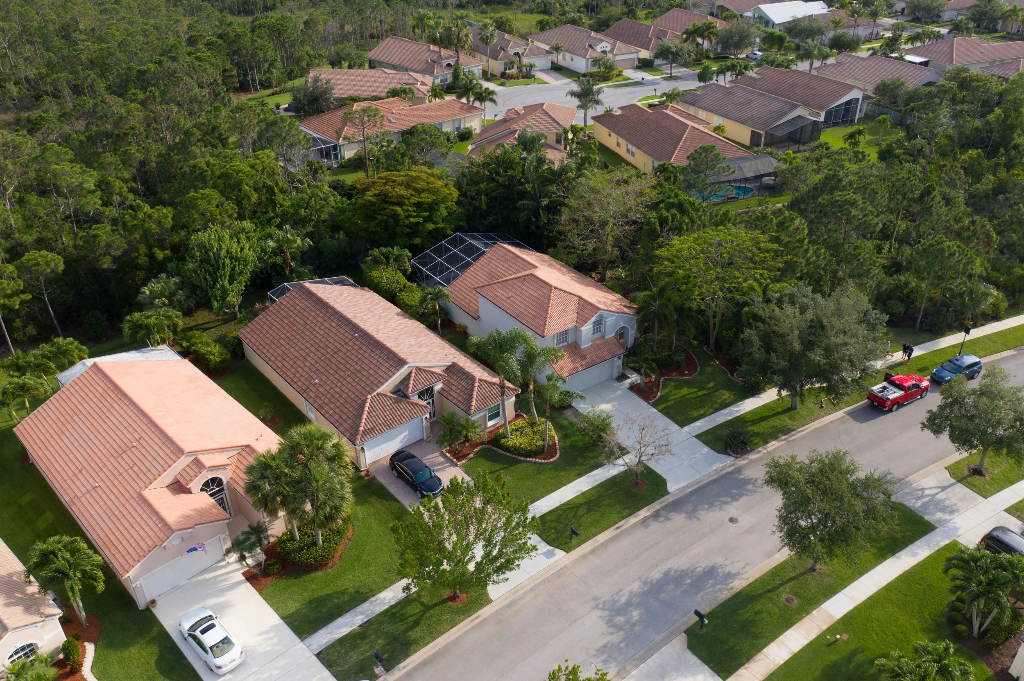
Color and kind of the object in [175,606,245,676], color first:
white car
